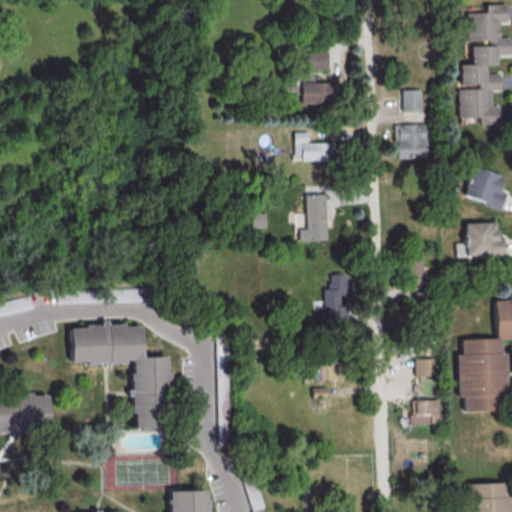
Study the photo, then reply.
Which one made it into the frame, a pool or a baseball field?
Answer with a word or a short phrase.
pool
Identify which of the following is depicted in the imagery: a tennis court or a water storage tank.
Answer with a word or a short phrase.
tennis court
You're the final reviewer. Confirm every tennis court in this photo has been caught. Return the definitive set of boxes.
[106,456,179,490]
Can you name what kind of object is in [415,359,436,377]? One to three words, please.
building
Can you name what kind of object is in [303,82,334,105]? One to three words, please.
house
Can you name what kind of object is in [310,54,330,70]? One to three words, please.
building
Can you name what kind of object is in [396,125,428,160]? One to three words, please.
house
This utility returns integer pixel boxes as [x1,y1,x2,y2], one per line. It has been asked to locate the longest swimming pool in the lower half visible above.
[113,432,166,456]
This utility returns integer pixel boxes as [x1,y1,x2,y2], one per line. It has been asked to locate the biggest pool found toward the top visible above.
[258,134,273,149]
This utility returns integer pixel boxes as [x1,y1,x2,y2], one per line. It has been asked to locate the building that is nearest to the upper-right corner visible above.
[460,5,512,126]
